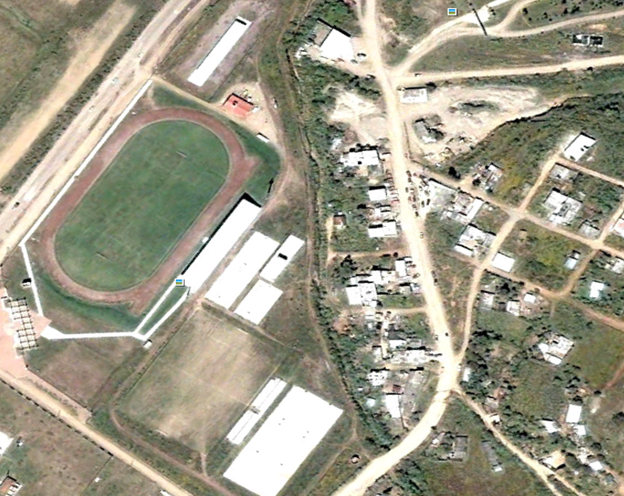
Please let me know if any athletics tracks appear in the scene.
Yes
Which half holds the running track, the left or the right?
left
